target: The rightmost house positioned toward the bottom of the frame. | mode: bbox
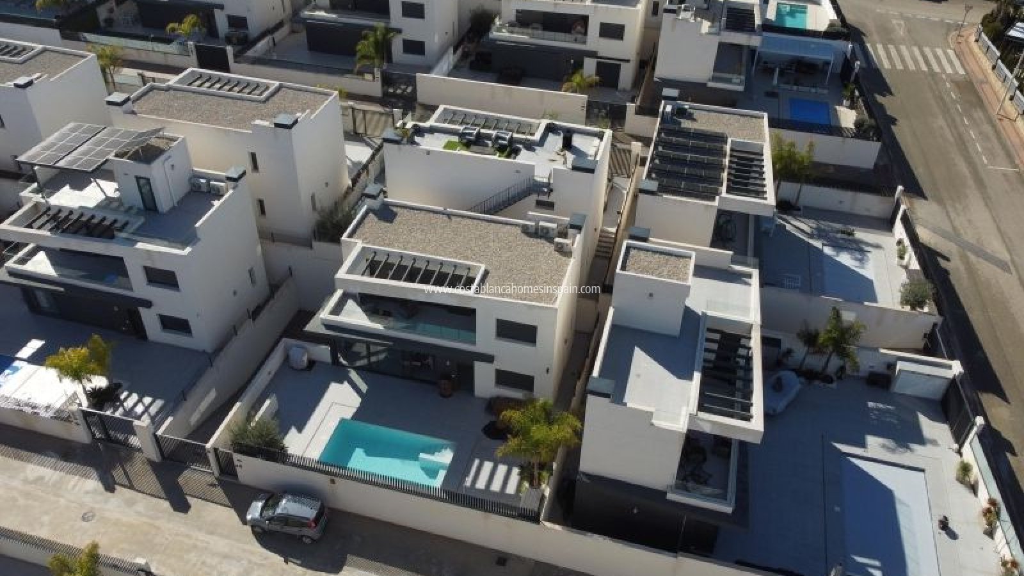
[572,236,763,556]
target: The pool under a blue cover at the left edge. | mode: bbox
[0,357,46,405]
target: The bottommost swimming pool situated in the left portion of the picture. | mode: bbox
[311,412,466,492]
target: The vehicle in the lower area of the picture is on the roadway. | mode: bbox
[246,488,337,545]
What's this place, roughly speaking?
residential area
